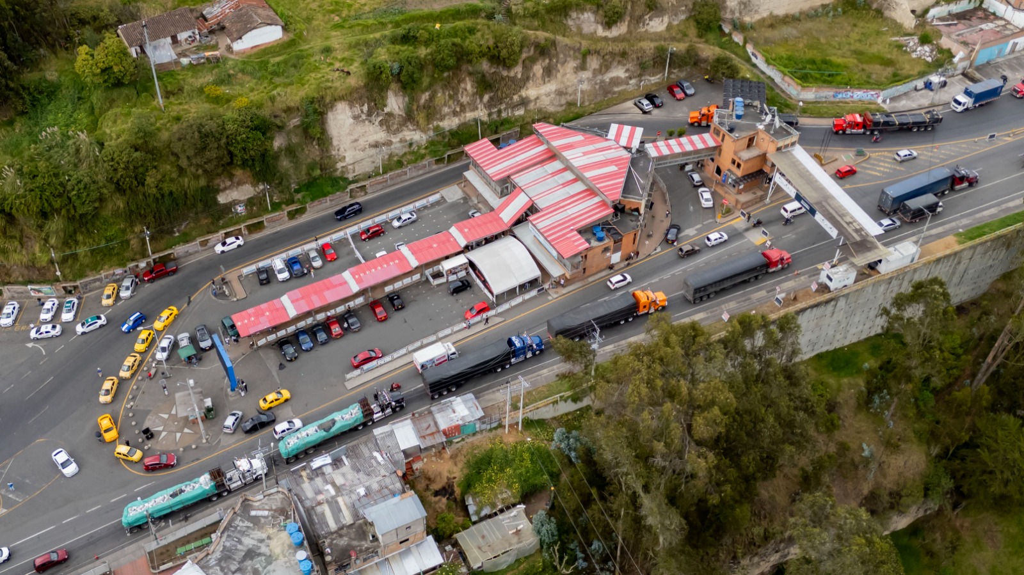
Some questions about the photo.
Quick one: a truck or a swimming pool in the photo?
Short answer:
truck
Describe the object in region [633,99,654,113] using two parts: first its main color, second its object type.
gray car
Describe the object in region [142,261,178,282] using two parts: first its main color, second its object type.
red truck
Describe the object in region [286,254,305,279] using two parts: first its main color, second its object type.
blue vehicle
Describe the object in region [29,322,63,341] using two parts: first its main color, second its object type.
white car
